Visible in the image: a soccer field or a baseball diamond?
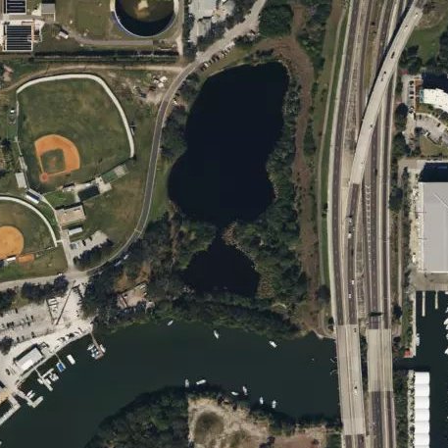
baseball diamond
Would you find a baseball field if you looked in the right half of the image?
No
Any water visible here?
Yes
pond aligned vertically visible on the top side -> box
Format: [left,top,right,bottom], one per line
[168,61,287,296]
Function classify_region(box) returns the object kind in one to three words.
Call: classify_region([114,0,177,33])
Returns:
storage tank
